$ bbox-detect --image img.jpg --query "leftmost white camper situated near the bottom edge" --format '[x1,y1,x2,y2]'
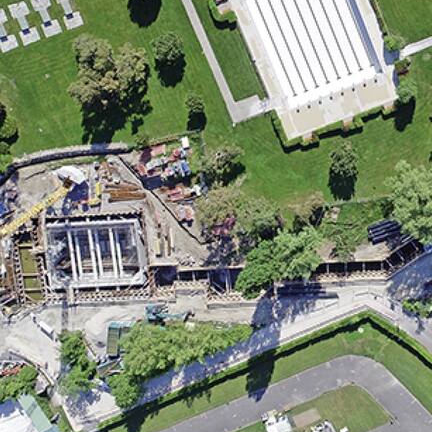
[266,409,289,432]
